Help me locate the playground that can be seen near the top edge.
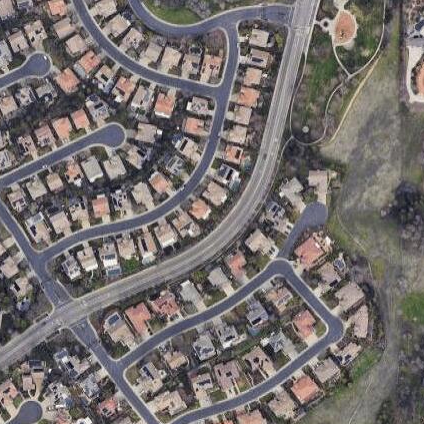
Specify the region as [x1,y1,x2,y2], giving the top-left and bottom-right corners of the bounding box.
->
[332,6,357,47]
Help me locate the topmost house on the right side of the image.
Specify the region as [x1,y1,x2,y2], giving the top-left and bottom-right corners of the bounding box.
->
[248,28,272,50]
